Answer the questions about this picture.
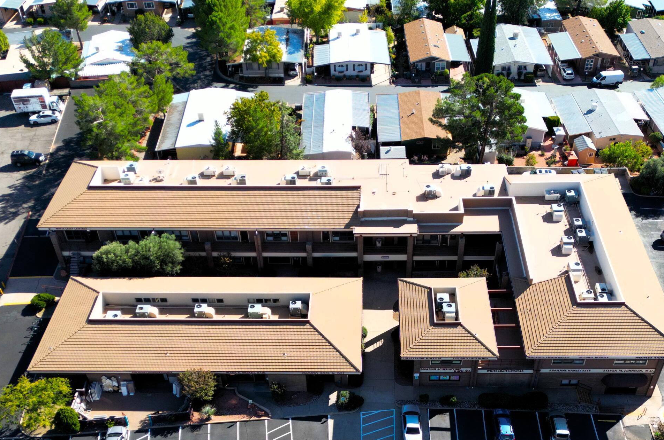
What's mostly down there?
buildings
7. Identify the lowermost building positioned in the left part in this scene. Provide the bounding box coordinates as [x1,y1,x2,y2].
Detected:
[28,275,364,390]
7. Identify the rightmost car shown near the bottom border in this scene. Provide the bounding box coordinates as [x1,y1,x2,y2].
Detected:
[546,409,571,440]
